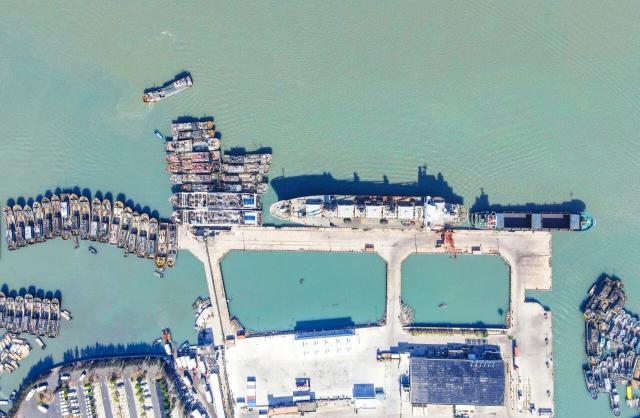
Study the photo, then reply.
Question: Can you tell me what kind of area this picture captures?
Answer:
port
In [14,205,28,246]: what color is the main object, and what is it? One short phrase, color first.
gray boat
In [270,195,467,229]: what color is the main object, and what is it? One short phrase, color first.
white ship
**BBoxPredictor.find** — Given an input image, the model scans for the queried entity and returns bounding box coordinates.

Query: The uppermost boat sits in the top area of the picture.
[142,78,194,100]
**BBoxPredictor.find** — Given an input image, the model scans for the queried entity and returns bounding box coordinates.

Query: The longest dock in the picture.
[178,227,551,289]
